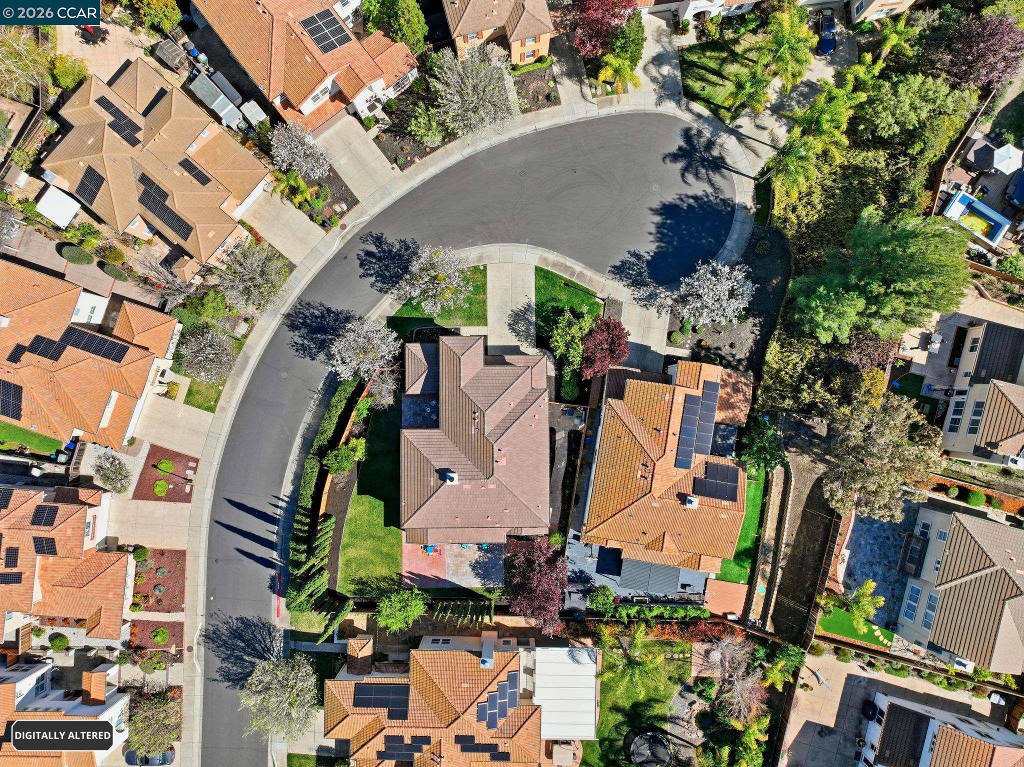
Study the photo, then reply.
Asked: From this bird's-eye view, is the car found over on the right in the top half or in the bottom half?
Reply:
top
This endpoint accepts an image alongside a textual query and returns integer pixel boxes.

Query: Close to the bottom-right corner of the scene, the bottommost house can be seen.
[856,692,1024,767]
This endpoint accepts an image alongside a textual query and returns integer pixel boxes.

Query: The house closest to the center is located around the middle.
[400,334,551,544]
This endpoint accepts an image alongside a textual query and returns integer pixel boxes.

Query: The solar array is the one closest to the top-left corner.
[94,94,142,146]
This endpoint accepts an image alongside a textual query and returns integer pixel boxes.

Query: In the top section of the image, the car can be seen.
[815,7,840,57]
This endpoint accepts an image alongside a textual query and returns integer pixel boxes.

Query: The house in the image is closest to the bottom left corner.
[0,659,131,767]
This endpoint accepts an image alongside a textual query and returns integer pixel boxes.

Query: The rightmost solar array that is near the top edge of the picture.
[300,7,352,53]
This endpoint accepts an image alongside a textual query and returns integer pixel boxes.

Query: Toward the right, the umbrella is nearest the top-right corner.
[986,145,1019,176]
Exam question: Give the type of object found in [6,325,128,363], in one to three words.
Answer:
solar array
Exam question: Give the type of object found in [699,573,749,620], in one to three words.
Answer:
gazebo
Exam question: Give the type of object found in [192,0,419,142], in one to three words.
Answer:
house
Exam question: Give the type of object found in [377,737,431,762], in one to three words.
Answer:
solar array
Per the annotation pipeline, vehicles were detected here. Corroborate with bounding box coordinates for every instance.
[127,743,175,767]
[815,7,840,57]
